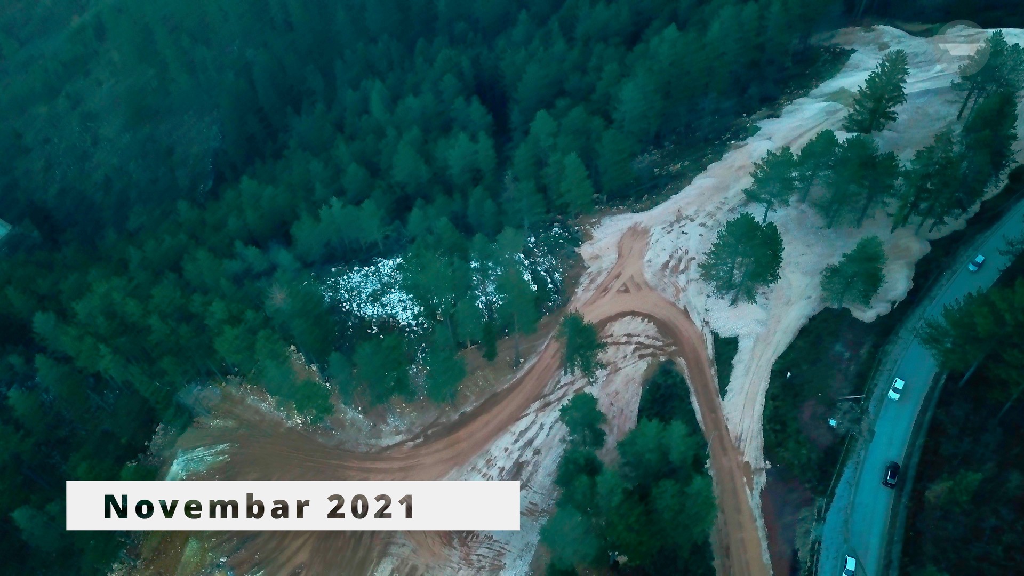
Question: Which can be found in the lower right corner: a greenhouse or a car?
car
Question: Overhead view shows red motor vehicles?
No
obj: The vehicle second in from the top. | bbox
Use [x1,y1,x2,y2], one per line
[885,376,907,402]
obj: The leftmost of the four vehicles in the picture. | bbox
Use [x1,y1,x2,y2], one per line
[838,549,860,576]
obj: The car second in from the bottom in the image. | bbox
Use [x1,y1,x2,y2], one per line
[881,459,902,491]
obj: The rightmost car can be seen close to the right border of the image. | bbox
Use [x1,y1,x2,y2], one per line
[965,253,988,274]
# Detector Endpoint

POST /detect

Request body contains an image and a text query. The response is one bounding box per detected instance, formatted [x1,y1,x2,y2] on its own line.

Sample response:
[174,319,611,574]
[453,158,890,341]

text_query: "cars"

[838,549,860,576]
[965,253,988,274]
[881,459,902,491]
[885,376,907,402]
